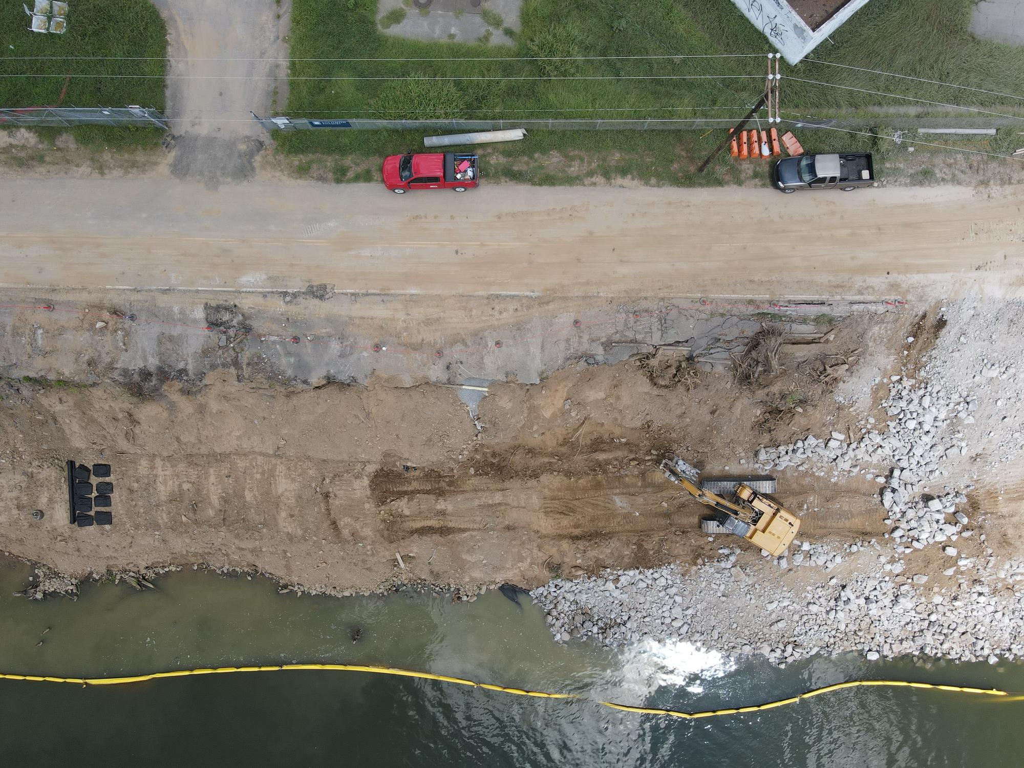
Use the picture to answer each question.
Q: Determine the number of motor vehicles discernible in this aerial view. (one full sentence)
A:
Altogether the scene contains 3 motor vehicles.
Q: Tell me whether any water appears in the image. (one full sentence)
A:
Yes, there is water in the image.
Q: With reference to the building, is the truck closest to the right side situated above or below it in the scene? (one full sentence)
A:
From this view, the truck closest to the right side can be seen below the building.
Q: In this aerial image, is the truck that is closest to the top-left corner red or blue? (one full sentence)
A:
The color of the truck that is closest to the top-left corner is red.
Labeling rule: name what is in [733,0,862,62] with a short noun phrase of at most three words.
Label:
building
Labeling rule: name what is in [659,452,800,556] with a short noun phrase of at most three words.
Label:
work vehicle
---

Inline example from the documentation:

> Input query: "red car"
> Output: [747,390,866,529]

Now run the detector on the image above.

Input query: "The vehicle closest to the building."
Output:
[771,149,875,194]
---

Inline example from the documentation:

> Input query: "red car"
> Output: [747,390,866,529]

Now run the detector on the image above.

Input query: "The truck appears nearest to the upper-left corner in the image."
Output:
[382,150,483,194]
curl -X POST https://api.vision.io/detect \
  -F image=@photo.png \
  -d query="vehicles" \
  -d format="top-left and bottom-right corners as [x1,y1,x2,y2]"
[382,150,483,194]
[771,149,875,194]
[659,452,800,556]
